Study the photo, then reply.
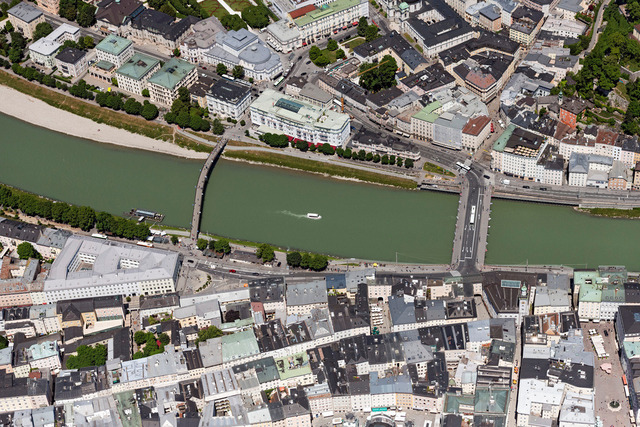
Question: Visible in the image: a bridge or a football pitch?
bridge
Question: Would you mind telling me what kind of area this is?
residential area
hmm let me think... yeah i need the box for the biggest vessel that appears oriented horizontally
[129,208,166,222]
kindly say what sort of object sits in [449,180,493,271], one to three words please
bridge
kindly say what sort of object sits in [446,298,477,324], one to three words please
house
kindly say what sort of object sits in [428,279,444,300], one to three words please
house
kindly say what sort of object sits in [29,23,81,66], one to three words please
building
